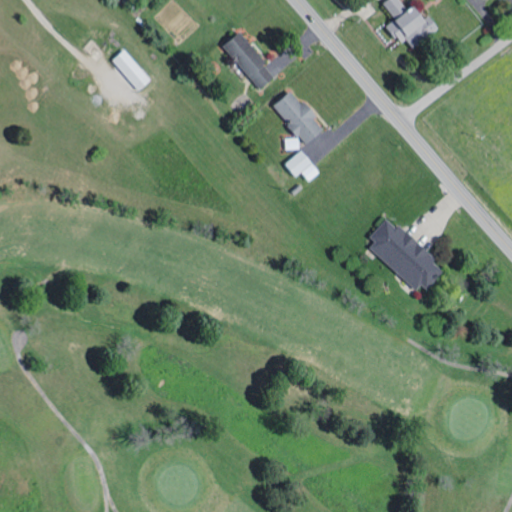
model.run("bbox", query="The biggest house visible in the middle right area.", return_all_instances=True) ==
[370,220,442,290]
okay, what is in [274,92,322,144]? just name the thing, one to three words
house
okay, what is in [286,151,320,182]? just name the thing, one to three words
building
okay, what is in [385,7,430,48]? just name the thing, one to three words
house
